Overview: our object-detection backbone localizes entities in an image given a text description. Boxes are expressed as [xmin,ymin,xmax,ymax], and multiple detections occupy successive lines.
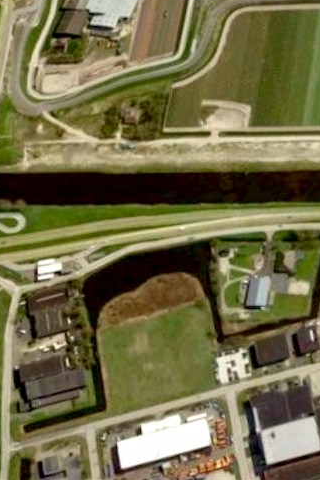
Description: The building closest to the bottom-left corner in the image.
[42,454,62,476]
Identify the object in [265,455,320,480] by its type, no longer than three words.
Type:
building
